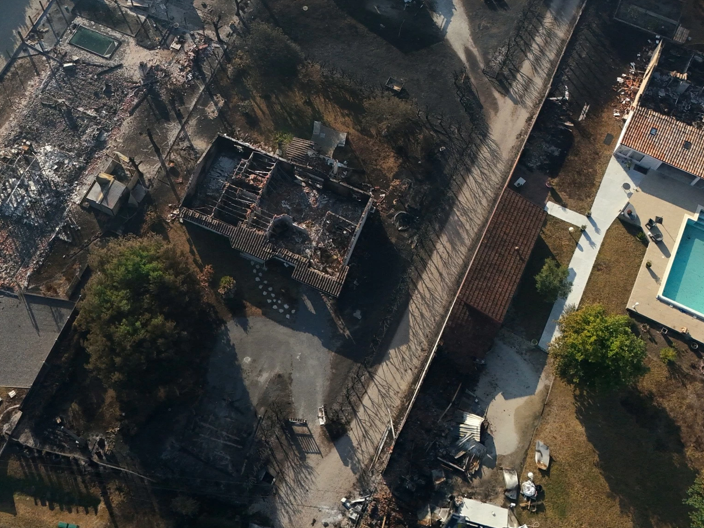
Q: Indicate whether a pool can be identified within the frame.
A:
Yes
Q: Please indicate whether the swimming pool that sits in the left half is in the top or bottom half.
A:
top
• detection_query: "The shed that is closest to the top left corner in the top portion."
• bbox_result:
[87,154,142,218]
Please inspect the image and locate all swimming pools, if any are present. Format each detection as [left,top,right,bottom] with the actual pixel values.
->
[65,20,126,64]
[657,205,704,315]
